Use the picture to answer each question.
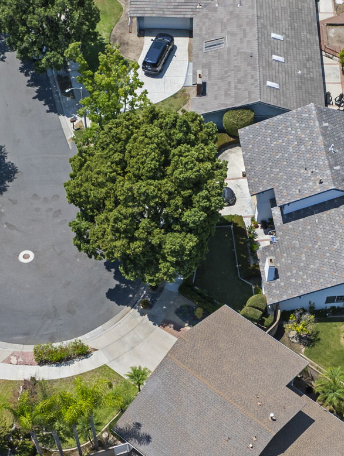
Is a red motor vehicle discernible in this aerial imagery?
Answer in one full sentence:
No, I can see no red motor vehicle in this picture.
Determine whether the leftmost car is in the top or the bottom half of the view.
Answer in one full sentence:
It is in the top half that the leftmost car appears.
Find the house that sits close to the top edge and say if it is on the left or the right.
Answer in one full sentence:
The house that sits close to the top edge sits on the right side.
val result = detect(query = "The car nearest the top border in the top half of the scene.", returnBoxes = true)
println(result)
[143,38,174,75]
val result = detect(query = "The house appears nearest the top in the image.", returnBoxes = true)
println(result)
[129,0,325,132]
